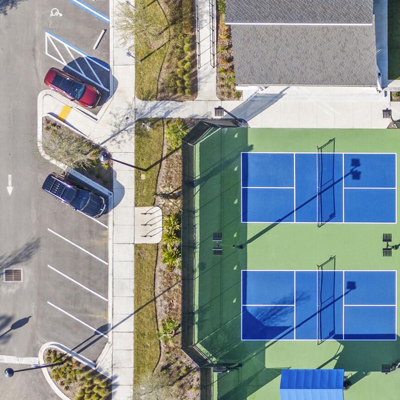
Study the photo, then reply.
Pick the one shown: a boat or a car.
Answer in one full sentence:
There is a car in the scene.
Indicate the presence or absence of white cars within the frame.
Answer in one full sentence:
No, I find no white car anywhere in the image.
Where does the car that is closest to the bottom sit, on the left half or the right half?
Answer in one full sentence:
It is on the left.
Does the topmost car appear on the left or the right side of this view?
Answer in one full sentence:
You can find the topmost car on the left side of the picture.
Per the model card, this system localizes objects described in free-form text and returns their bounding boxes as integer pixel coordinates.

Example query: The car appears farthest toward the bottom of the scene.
[39,173,108,219]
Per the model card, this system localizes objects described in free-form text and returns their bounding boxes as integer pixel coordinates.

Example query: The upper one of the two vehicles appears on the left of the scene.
[42,66,103,110]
